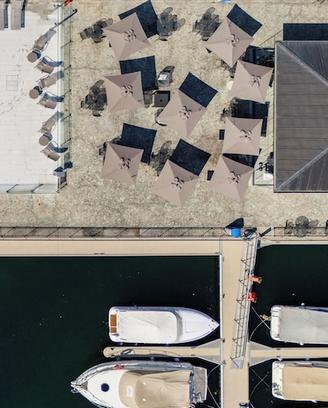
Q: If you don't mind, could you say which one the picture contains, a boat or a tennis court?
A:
boat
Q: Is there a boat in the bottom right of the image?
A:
Yes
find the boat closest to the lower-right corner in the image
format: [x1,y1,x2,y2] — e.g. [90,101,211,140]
[250,357,328,408]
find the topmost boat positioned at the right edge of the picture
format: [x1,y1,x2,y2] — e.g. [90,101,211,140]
[248,299,328,345]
